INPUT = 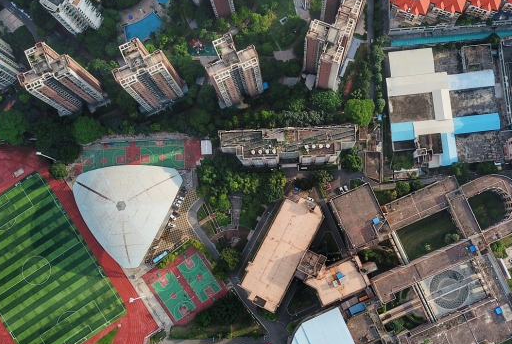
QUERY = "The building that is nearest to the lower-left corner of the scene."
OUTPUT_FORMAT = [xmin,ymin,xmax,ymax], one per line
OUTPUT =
[73,164,185,268]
